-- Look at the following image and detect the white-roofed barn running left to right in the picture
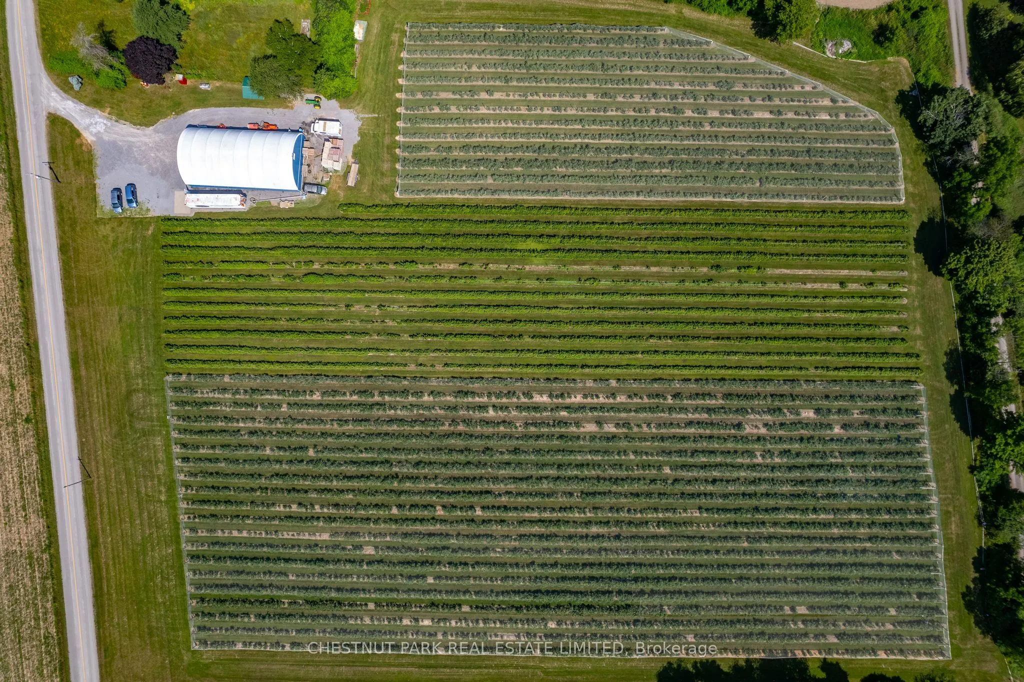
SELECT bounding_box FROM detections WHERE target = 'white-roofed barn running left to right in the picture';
[176,126,304,195]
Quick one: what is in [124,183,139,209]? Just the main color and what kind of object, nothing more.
blue car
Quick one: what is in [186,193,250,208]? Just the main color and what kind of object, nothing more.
white trailer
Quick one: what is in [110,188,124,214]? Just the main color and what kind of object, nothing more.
blue car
